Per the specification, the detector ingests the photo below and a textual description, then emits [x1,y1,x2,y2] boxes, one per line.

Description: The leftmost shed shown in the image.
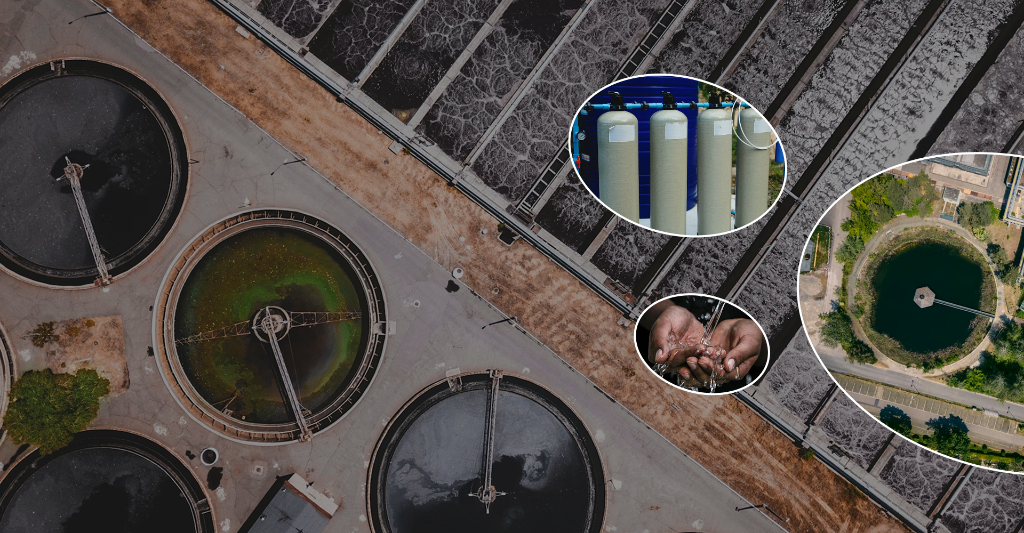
[245,473,339,533]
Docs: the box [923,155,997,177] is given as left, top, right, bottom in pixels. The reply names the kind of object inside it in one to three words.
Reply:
greenhouse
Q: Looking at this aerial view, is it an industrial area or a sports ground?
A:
industrial area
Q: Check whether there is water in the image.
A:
Yes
